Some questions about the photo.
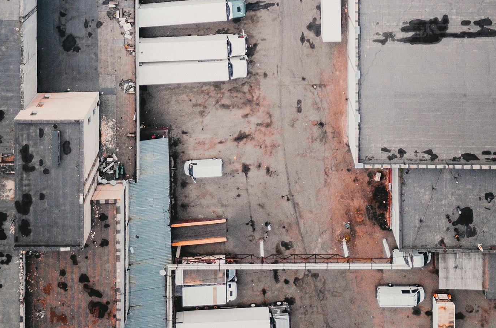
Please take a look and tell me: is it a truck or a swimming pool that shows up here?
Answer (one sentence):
Looking from above, you can make out a truck.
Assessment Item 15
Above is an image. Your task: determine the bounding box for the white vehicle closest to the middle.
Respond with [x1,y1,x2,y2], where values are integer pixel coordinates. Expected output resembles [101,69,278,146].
[185,158,222,184]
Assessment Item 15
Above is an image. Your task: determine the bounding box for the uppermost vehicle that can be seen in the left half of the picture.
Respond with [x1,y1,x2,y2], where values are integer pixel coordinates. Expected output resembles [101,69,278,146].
[140,0,247,27]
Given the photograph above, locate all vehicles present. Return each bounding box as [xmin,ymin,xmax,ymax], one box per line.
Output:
[185,158,222,184]
[176,304,291,328]
[140,0,247,27]
[137,27,247,61]
[393,247,430,269]
[378,287,424,312]
[321,0,342,42]
[431,289,455,328]
[182,273,238,305]
[141,55,250,84]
